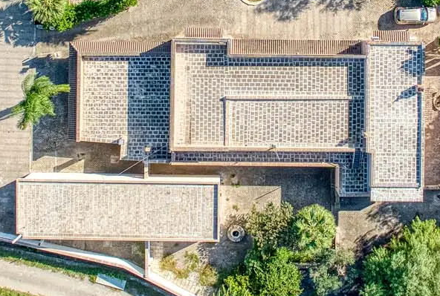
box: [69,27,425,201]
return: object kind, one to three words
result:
house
